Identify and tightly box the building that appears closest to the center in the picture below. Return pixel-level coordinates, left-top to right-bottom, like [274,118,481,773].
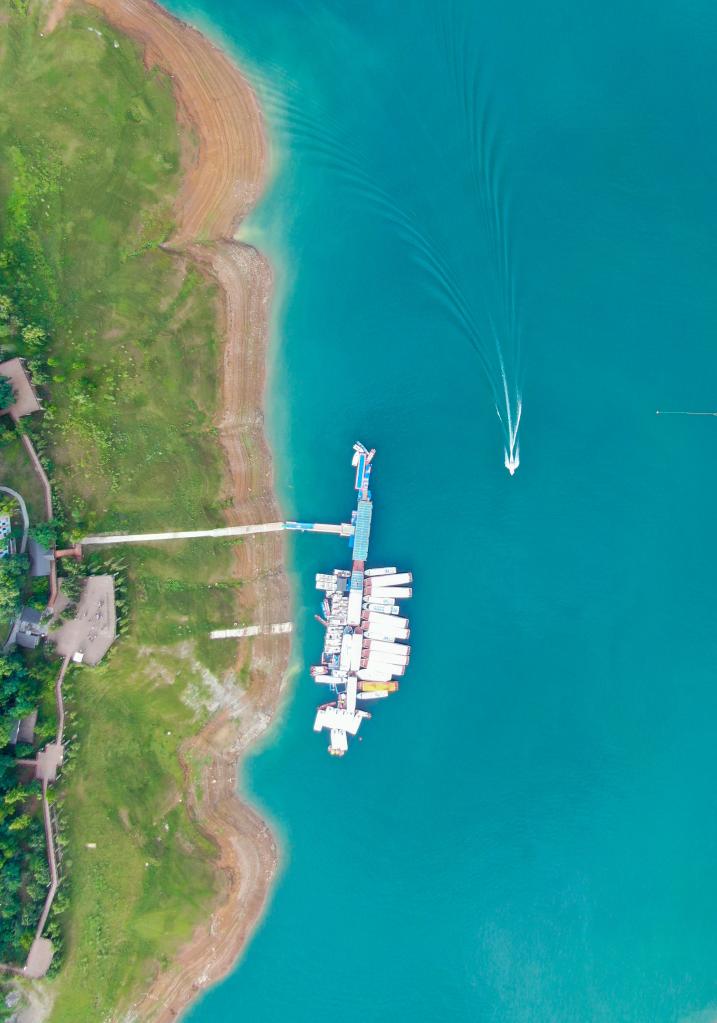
[353,501,372,561]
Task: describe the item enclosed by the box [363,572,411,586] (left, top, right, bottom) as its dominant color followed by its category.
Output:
white boat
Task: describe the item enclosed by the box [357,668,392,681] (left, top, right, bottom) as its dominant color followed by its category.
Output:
white boat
